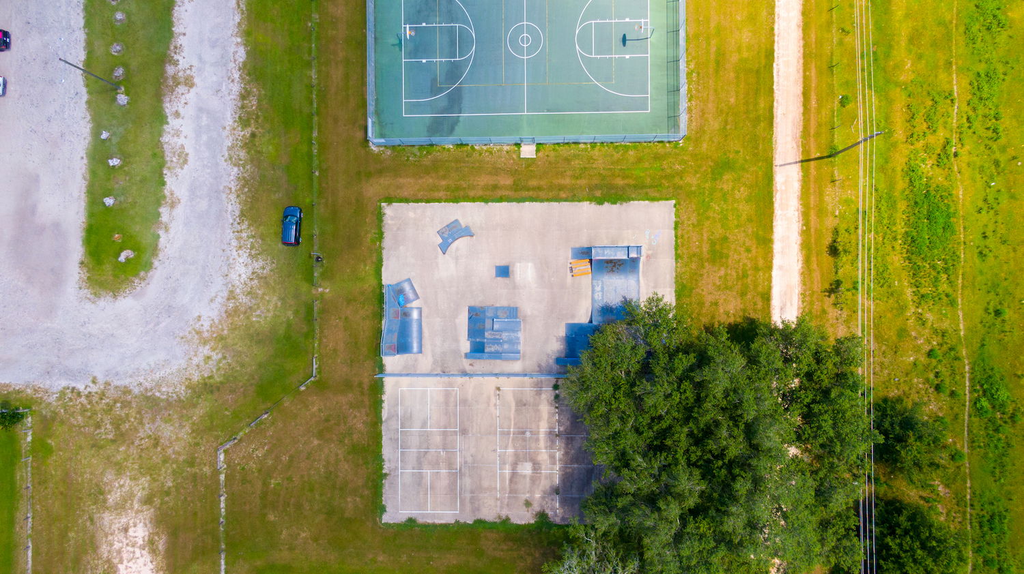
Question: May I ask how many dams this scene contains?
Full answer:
There are no dams in this view.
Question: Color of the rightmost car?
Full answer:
The color of the rightmost car is blue.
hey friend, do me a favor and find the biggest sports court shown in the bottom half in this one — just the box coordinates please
[461,387,601,516]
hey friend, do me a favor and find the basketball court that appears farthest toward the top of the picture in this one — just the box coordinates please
[373,0,680,145]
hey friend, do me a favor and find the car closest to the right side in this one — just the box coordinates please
[280,205,303,246]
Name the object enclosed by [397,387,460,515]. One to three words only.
sports court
